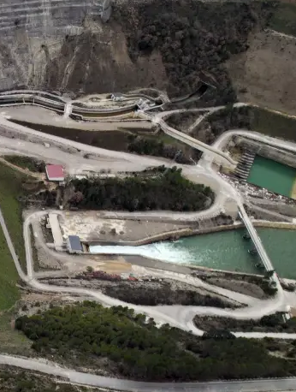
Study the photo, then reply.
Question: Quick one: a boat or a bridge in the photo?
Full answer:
This aerial view contains a bridge.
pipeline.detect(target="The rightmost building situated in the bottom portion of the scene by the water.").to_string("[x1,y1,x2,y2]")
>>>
[64,232,91,258]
